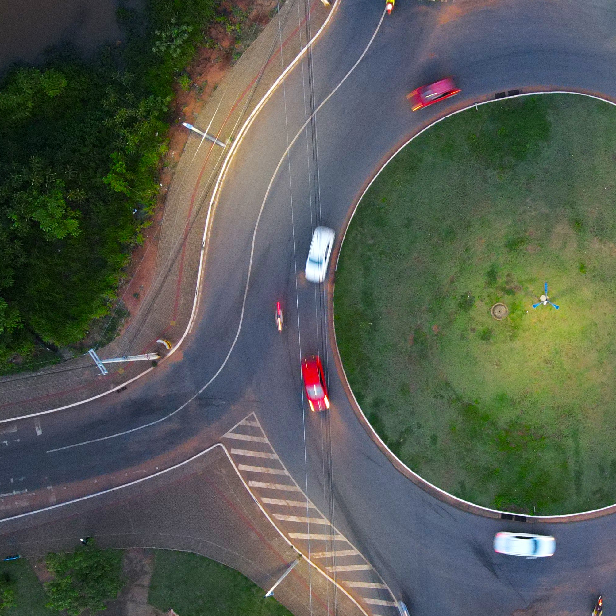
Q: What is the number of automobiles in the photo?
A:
4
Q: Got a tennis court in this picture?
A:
No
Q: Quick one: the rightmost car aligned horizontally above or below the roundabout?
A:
below it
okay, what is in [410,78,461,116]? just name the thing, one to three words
car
